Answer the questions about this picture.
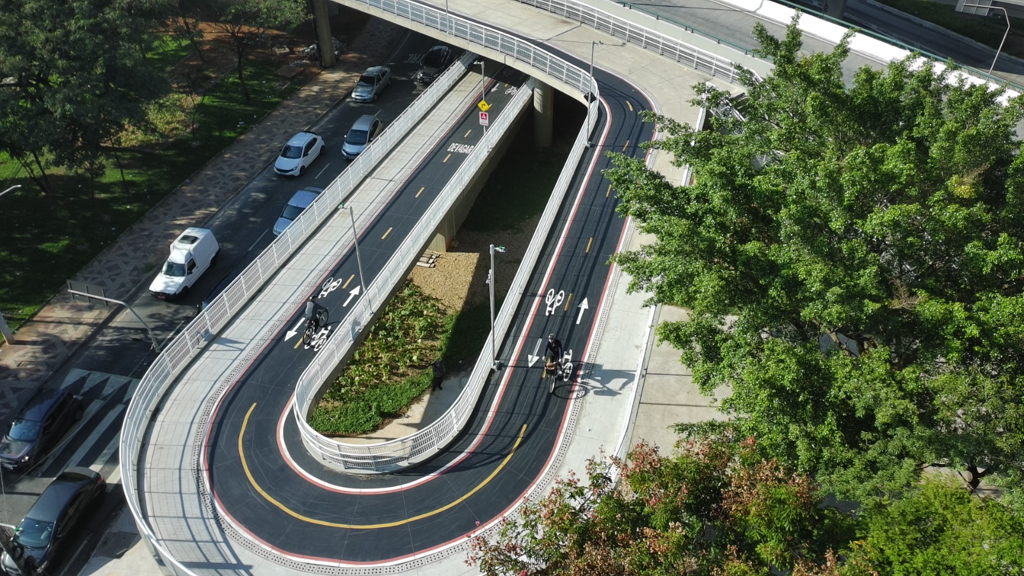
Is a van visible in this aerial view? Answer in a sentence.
Yes, you can see a van in this photo.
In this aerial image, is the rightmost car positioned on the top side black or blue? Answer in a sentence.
The rightmost car positioned on the top side is black.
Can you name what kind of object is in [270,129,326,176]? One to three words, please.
car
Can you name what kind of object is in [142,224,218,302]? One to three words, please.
van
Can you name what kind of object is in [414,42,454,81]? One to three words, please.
car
